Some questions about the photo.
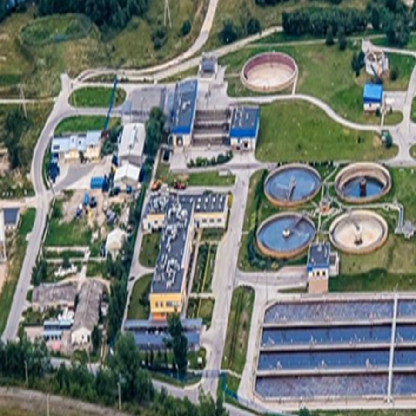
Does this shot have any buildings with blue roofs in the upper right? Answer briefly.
Yes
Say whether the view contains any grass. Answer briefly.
Yes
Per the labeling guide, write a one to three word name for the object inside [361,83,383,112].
building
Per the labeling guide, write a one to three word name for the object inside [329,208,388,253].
storage tank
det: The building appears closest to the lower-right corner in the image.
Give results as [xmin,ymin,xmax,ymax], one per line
[306,242,338,277]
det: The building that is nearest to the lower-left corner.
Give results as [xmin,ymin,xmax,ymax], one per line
[42,320,72,344]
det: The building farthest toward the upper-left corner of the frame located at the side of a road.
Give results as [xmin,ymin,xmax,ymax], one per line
[50,130,103,163]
